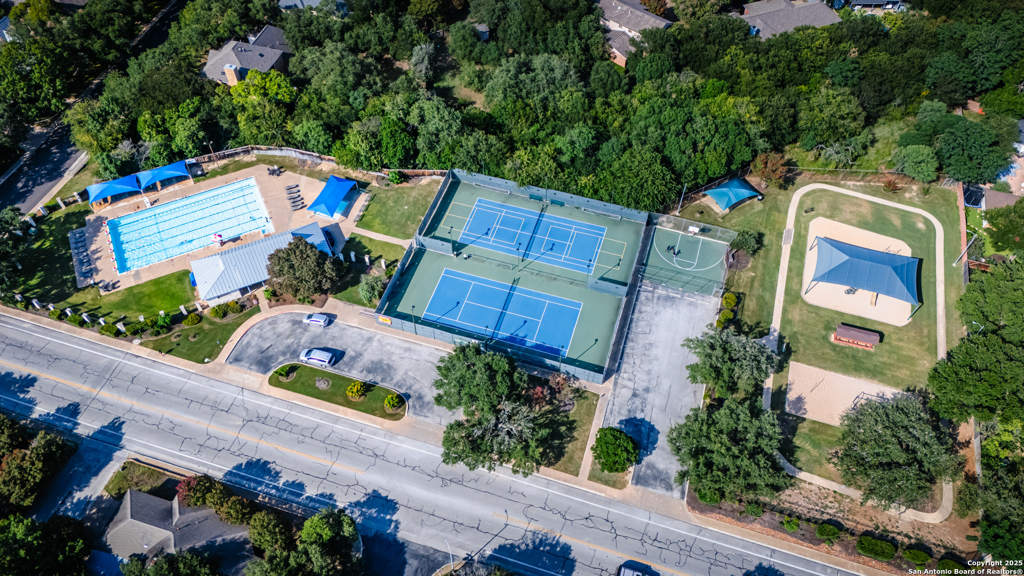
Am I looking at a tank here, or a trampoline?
trampoline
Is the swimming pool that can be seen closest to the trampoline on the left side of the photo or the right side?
right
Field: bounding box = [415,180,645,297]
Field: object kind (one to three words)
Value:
tennis court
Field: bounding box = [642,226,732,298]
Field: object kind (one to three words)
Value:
basketball court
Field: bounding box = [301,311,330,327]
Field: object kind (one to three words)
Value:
car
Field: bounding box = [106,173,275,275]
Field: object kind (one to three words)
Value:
swimming pool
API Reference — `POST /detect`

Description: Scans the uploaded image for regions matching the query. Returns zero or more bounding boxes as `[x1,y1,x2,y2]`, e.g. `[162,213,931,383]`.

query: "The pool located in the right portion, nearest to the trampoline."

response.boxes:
[996,162,1022,188]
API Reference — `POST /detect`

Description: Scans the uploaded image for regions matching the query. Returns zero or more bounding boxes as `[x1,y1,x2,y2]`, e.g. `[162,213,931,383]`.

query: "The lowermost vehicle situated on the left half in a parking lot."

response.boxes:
[299,347,333,367]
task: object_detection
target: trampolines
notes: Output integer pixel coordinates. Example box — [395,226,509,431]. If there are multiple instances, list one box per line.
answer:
[963,180,987,205]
